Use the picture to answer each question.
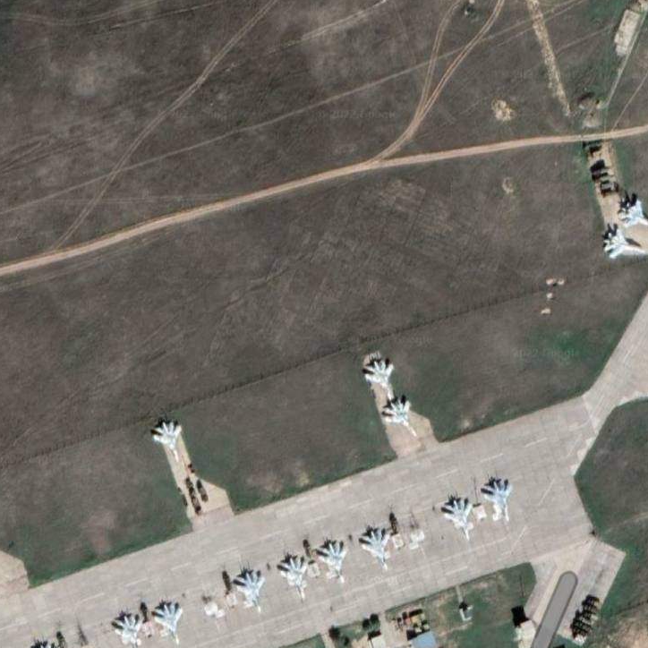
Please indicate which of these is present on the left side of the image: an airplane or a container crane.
airplane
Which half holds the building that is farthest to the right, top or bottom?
top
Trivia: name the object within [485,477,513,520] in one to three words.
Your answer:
airplane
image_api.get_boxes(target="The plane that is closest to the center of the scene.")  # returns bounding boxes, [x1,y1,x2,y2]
[365,355,392,400]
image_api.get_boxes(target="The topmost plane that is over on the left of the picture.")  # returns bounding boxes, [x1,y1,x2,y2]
[153,417,181,461]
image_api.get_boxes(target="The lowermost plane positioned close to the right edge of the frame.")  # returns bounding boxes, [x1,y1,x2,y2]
[608,229,648,257]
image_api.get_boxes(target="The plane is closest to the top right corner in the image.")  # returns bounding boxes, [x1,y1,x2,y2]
[619,199,648,226]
